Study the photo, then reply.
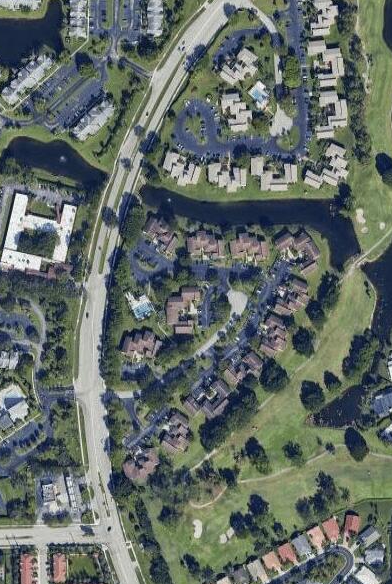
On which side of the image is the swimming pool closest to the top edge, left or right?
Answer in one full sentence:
It is on the right.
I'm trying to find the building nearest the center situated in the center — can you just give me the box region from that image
[166,284,201,335]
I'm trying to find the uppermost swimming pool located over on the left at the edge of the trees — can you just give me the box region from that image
[126,294,154,320]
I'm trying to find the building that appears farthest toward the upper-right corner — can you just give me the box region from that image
[311,0,339,36]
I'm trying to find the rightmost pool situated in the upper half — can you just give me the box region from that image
[249,86,270,106]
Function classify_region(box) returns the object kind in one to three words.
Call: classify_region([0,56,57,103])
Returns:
building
